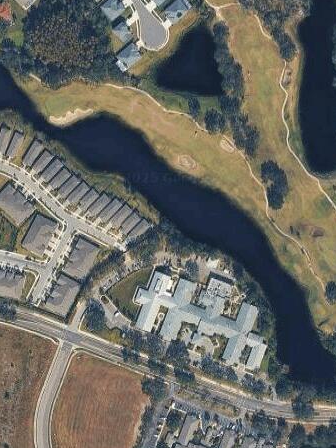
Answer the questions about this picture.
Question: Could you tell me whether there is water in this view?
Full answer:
Yes, some water is visible.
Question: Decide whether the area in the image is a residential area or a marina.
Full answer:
This image shows a residential area.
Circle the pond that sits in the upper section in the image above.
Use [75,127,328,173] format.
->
[157,25,222,96]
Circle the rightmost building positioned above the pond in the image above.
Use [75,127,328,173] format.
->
[164,0,190,23]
